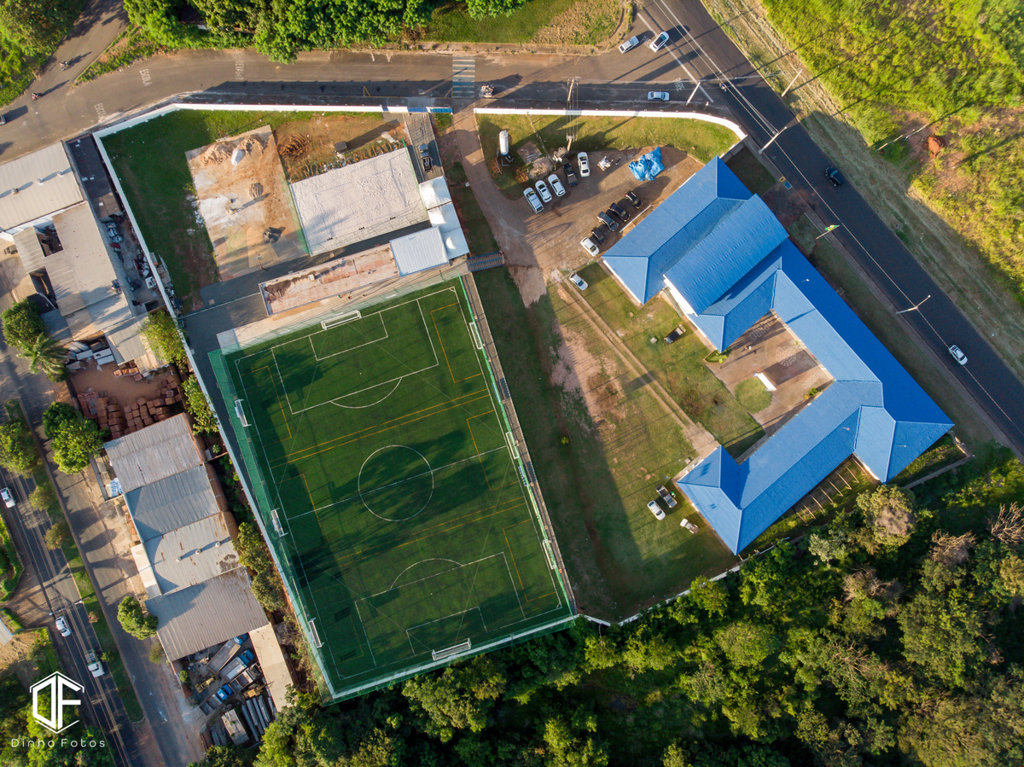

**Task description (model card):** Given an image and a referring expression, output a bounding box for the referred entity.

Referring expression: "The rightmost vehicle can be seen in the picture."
[946,343,968,367]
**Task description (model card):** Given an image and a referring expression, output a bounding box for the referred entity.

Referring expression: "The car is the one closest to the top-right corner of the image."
[822,165,845,188]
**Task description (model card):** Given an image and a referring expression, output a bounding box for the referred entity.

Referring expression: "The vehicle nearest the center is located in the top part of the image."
[568,270,589,293]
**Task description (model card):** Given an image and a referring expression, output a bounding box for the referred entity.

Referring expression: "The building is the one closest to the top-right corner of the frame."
[602,155,955,555]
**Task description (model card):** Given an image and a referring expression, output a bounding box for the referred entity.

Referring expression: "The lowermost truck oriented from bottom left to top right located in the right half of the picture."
[662,321,689,346]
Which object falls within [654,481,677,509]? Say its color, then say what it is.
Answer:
gray truck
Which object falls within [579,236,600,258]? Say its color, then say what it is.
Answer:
white car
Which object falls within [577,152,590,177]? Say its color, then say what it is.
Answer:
white vehicle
